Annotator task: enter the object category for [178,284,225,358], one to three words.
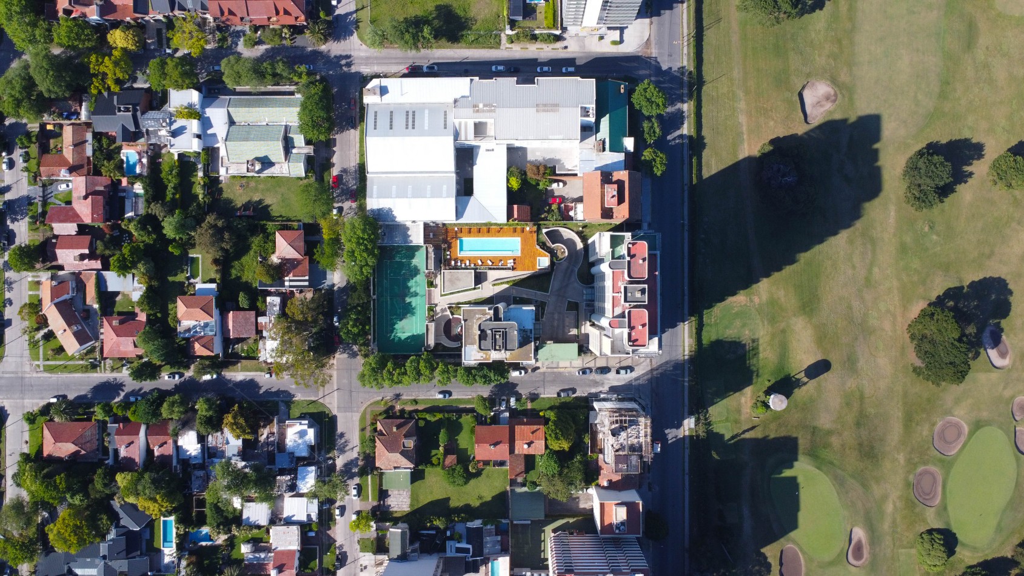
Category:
house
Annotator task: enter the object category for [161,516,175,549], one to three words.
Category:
swimming pool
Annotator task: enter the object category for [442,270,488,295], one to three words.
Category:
building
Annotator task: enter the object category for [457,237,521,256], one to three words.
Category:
swimming pool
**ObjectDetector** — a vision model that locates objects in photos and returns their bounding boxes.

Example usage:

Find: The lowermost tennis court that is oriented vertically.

[377,246,425,354]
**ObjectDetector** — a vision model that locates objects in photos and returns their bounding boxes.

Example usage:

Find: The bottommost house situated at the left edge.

[33,494,155,576]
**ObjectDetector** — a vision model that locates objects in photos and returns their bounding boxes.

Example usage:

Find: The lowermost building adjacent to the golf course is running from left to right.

[544,525,652,576]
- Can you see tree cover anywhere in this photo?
Yes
